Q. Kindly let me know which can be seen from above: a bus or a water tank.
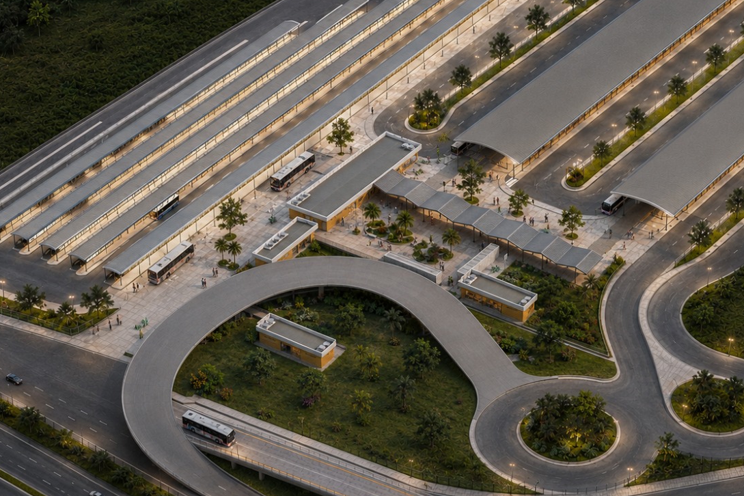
bus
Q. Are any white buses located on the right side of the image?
No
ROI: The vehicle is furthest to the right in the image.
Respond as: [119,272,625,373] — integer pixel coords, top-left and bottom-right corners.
[601,193,631,214]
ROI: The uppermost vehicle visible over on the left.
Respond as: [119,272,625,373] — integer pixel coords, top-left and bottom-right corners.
[270,152,313,189]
